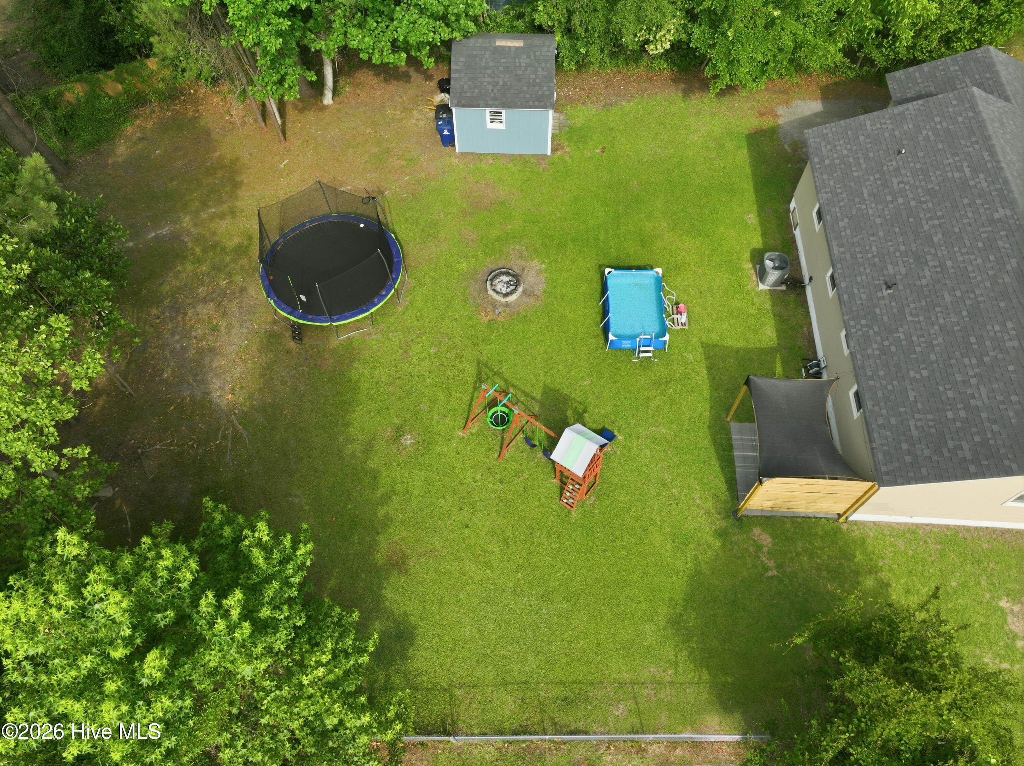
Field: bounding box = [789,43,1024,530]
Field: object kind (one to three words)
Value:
house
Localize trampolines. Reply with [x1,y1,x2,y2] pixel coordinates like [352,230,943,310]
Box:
[255,176,404,338]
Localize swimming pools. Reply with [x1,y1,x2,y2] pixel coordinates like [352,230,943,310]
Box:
[598,267,671,355]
